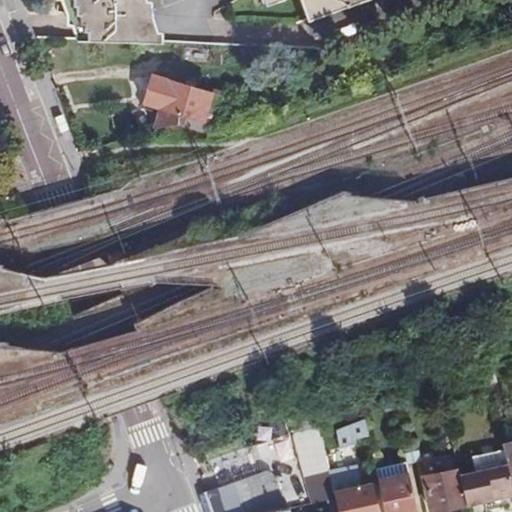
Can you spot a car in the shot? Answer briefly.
Yes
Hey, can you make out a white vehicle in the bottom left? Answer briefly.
Yes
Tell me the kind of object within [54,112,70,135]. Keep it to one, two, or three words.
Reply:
vehicle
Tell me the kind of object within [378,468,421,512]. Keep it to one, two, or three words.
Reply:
house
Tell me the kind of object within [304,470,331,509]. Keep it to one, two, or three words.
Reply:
building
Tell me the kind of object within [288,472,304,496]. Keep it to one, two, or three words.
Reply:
car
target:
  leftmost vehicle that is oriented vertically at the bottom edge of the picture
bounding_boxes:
[130,461,146,494]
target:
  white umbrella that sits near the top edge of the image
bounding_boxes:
[341,24,357,36]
